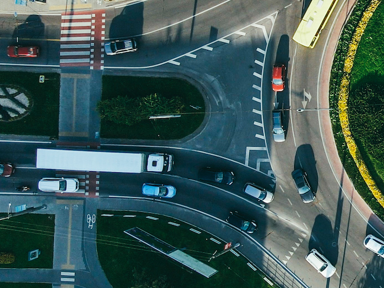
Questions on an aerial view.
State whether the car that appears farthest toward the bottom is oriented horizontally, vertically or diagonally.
diagonally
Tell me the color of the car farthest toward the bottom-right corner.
white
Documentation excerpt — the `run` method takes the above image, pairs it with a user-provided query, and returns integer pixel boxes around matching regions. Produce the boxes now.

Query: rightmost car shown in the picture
[362,234,384,258]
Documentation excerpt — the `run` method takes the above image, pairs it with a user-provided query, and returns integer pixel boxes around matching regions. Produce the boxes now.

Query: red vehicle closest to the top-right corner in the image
[270,64,286,93]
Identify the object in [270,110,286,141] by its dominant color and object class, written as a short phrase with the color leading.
blue car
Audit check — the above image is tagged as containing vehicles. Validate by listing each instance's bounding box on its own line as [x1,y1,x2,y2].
[104,37,139,55]
[7,43,41,59]
[362,234,384,258]
[32,148,180,176]
[270,64,286,93]
[291,167,316,202]
[304,247,336,279]
[142,182,177,200]
[242,181,275,204]
[0,161,16,177]
[226,211,257,234]
[270,110,286,141]
[292,0,340,50]
[37,176,80,194]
